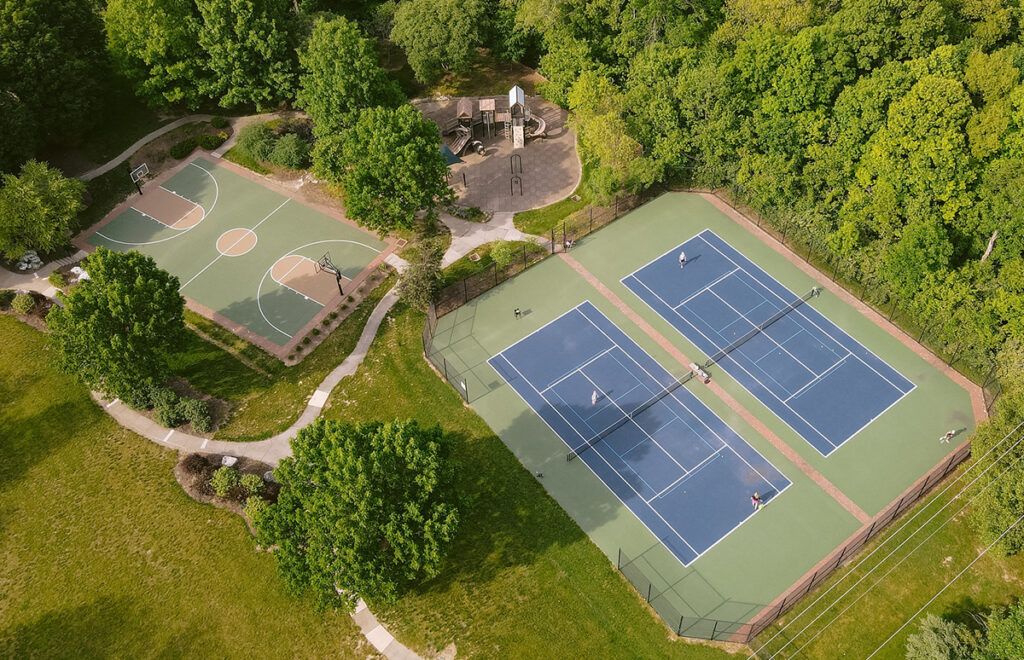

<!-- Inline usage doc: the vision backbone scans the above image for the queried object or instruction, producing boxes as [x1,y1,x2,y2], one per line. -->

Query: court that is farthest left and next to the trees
[73,149,397,357]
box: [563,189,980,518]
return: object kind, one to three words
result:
tennis court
